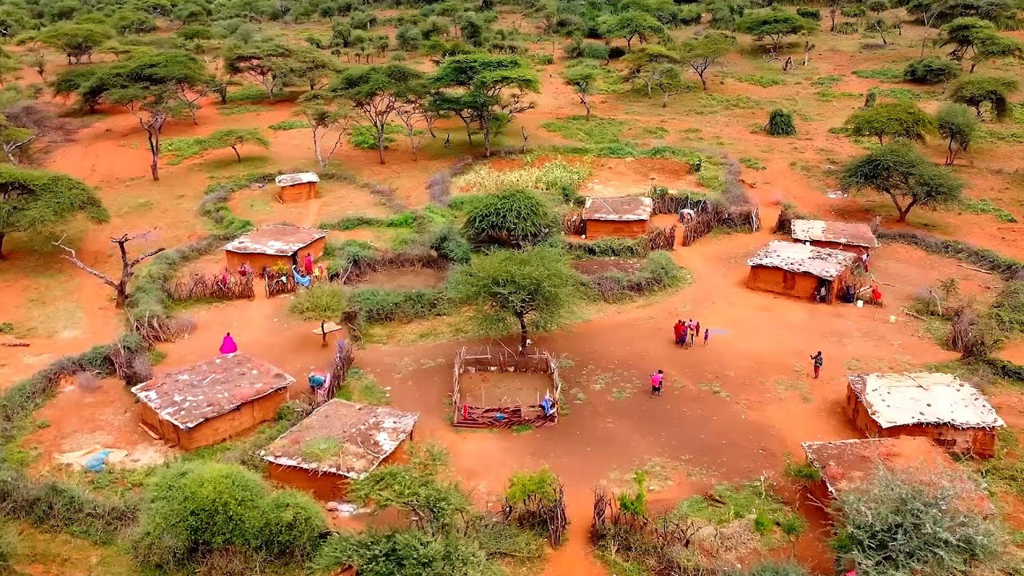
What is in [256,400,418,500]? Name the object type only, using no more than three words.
shed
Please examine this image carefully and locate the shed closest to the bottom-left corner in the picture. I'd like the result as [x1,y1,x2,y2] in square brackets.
[132,357,297,453]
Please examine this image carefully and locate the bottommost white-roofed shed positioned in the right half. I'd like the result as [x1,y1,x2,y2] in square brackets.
[846,373,1014,456]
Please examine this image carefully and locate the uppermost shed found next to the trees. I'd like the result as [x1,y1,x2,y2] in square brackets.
[275,174,321,205]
